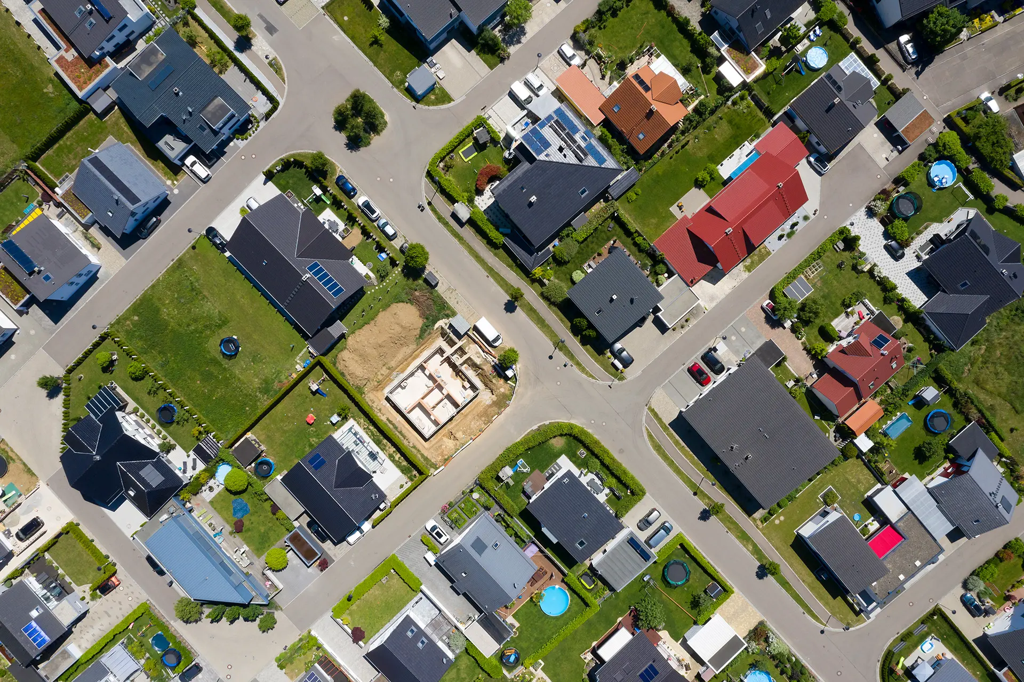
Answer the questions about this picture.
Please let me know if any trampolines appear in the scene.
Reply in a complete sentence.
Yes, a trampoline is visible in the scene.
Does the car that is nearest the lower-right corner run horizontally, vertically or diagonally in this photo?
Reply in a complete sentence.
Seen from above, the car that is nearest the lower-right corner lies diagonally.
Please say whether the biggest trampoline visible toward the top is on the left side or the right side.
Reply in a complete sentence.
The biggest trampoline visible toward the top appears in the right half of the scene.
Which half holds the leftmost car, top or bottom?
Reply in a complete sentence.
Seen from above, the leftmost car lies in the bottom half of the view.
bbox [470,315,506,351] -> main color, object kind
white vehicle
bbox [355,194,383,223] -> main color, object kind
white car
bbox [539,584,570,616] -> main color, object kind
blue swimming pool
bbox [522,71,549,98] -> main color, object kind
white car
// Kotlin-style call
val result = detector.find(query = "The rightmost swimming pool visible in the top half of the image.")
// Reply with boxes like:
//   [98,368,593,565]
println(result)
[925,160,957,191]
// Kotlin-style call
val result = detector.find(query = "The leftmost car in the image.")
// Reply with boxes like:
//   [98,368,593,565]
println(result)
[14,515,47,541]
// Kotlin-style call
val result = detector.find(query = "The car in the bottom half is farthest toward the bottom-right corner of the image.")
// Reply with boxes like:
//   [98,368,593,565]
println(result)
[957,591,986,619]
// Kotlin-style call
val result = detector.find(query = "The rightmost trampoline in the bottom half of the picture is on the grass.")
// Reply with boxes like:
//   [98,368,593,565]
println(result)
[923,409,956,435]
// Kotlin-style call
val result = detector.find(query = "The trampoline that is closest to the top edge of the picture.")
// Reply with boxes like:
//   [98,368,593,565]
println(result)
[457,141,479,163]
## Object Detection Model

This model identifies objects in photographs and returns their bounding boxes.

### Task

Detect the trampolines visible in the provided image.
[251,458,275,478]
[457,141,479,163]
[923,409,956,435]
[894,191,925,219]
[219,337,239,357]
[0,456,10,474]
[663,559,692,589]
[578,570,597,588]
[501,648,520,667]
[152,404,176,422]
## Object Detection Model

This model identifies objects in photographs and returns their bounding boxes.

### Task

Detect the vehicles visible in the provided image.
[183,154,213,184]
[196,148,219,169]
[204,225,228,252]
[344,520,373,544]
[806,151,831,177]
[98,574,124,596]
[642,519,675,549]
[635,507,663,531]
[137,214,164,240]
[334,174,359,199]
[759,298,780,322]
[608,340,636,370]
[557,41,584,69]
[355,194,383,223]
[424,518,452,547]
[144,553,169,578]
[508,77,535,107]
[178,660,205,682]
[881,238,906,262]
[244,193,262,209]
[375,217,400,242]
[686,361,713,387]
[699,348,727,376]
[14,515,47,541]
[522,71,549,98]
[957,591,986,619]
[397,241,411,255]
[470,315,506,351]
[896,34,919,64]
